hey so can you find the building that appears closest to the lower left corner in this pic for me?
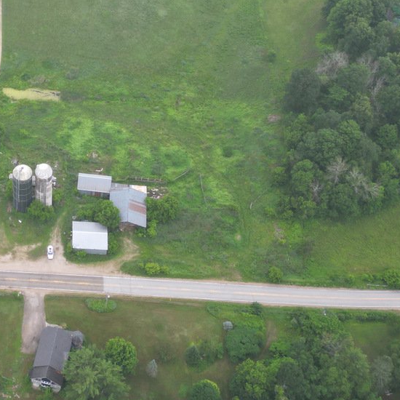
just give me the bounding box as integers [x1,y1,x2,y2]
[31,325,73,391]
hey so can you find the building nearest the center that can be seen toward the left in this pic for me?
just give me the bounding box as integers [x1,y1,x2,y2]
[110,184,147,233]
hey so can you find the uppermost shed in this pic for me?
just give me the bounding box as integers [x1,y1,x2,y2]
[77,173,111,197]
